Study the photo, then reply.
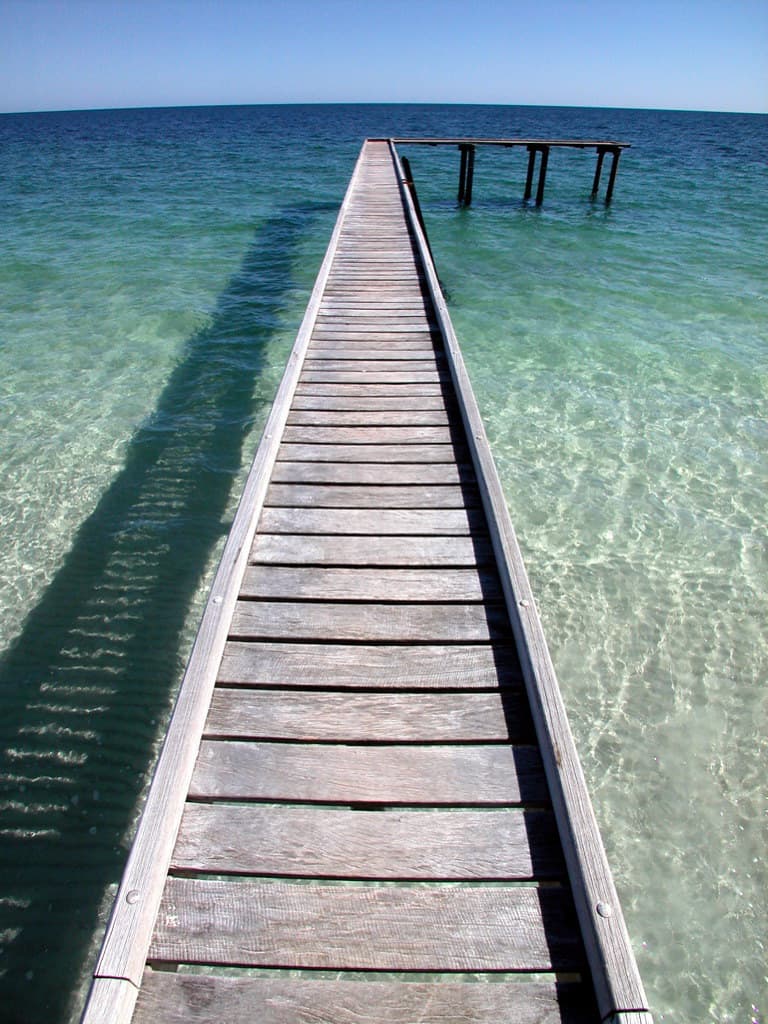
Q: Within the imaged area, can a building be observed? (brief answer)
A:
No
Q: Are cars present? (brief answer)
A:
No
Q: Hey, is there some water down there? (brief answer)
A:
Yes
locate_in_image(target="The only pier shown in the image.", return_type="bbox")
[79,142,653,1024]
